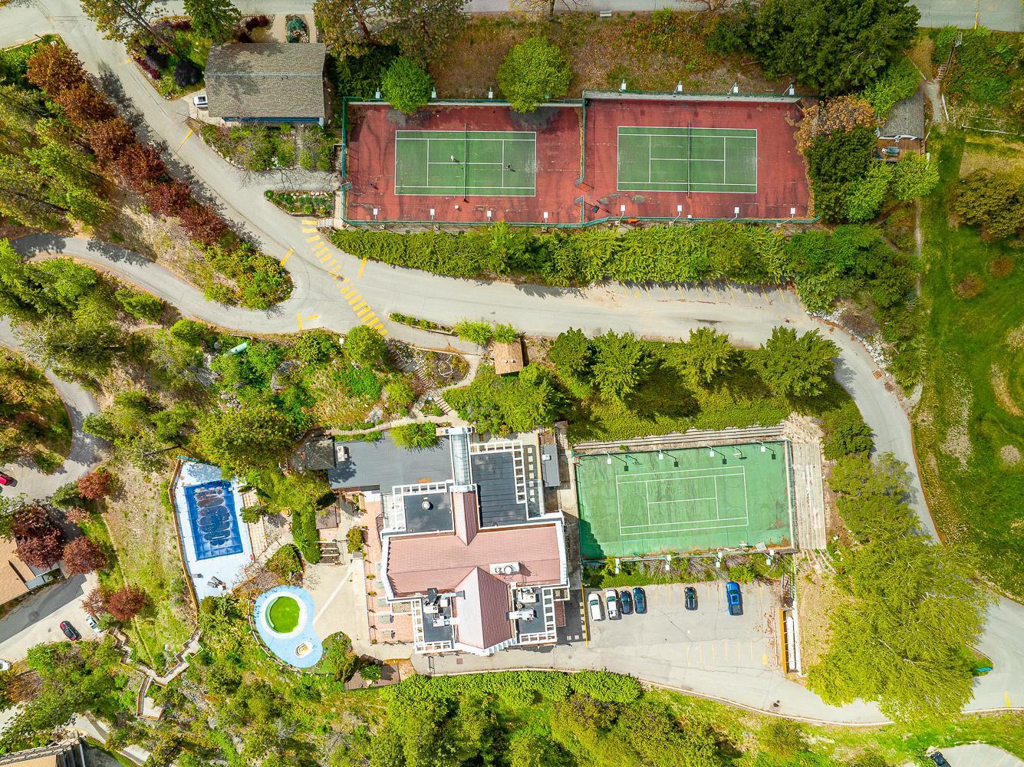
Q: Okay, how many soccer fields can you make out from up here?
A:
zero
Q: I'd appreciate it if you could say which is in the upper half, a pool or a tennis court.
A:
tennis court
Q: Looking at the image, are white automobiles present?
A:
Yes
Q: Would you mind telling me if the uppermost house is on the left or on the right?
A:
left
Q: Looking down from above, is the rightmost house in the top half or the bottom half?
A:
top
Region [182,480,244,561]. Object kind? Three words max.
swimming pool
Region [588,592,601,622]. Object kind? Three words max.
vehicle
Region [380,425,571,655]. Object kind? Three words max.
building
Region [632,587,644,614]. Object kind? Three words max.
vehicle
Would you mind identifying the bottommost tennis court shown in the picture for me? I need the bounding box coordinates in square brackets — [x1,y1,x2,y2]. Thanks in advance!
[577,444,797,562]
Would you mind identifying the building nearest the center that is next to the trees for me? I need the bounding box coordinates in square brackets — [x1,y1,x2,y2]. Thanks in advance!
[494,341,523,374]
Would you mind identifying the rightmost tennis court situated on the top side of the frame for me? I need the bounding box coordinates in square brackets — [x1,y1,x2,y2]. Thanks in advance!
[582,102,818,222]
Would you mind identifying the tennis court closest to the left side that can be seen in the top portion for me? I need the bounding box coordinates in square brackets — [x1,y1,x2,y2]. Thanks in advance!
[347,104,581,222]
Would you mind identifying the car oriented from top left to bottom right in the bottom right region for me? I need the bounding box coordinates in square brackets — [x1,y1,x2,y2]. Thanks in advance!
[929,746,949,767]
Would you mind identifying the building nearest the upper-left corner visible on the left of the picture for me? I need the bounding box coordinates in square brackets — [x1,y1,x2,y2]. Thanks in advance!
[205,43,328,123]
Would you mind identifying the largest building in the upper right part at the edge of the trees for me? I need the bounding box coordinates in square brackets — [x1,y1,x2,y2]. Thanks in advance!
[874,92,926,161]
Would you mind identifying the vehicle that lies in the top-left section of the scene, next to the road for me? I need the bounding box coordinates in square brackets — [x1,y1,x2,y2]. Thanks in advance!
[189,95,208,110]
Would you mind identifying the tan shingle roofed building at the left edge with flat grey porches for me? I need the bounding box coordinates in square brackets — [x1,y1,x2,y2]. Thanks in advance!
[0,532,68,605]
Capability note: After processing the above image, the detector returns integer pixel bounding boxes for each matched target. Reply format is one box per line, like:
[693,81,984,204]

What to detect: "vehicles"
[684,586,696,609]
[605,588,618,620]
[85,612,103,635]
[588,592,601,622]
[727,582,741,616]
[619,590,630,614]
[0,473,16,487]
[189,95,208,110]
[929,746,949,767]
[61,619,80,642]
[632,587,644,614]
